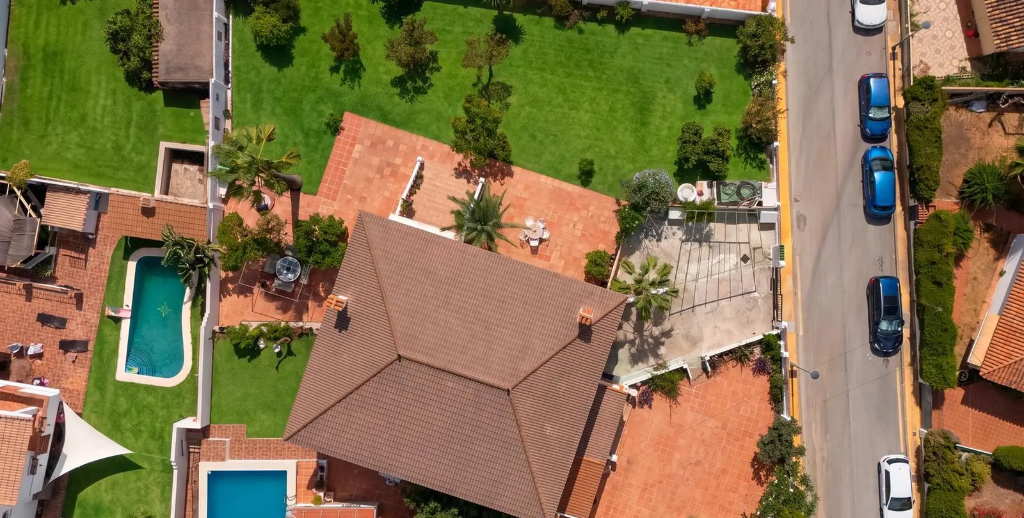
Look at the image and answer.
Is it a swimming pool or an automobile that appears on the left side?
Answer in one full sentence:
The feature located on the left side is a swimming pool.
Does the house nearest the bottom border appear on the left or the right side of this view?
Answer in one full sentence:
The house nearest the bottom border appears in the left half of the scene.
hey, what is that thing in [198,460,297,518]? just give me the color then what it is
blue swimming pool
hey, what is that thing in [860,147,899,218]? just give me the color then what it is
blue car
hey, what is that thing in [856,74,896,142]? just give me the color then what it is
blue car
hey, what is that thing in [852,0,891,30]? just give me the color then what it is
white car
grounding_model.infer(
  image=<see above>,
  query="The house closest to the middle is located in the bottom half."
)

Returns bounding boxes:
[282,209,631,518]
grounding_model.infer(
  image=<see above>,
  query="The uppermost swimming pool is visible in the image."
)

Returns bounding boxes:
[115,247,199,387]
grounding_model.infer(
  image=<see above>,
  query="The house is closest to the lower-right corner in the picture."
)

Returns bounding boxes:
[956,234,1024,395]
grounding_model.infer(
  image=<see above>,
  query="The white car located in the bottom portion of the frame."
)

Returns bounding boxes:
[878,454,919,518]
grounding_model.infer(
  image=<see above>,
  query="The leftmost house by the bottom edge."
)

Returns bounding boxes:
[0,378,66,518]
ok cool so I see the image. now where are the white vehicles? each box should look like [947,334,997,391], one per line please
[878,454,919,518]
[852,0,891,30]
